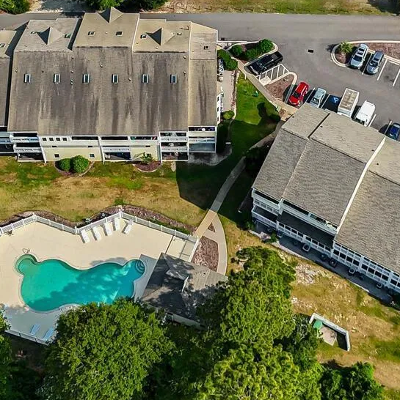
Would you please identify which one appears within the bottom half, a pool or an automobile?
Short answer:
pool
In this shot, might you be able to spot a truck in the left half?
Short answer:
No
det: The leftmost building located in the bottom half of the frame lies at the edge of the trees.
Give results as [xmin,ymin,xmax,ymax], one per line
[139,253,226,329]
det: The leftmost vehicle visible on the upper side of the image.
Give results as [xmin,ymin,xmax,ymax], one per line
[251,51,282,73]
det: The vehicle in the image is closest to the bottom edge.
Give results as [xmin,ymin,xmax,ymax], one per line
[384,120,400,140]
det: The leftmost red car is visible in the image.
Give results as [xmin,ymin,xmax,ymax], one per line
[288,82,310,106]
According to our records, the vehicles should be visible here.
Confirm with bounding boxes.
[351,44,368,68]
[354,98,375,128]
[384,120,400,140]
[337,84,360,120]
[251,51,282,73]
[288,82,310,106]
[366,51,384,74]
[309,86,326,110]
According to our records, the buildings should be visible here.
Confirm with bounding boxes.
[246,104,400,292]
[0,6,222,168]
[139,253,226,329]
